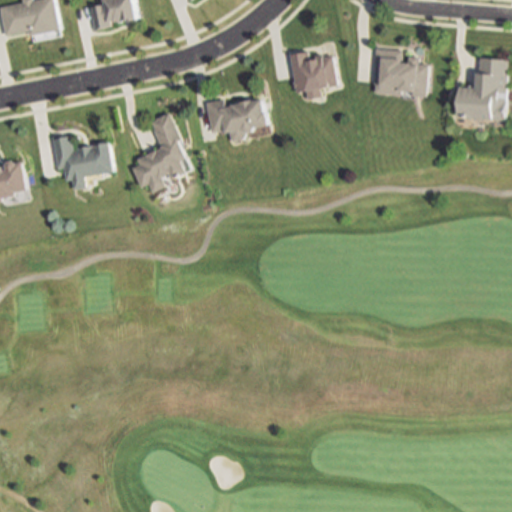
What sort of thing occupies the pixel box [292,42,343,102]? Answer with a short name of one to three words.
house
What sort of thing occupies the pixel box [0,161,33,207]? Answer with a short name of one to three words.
house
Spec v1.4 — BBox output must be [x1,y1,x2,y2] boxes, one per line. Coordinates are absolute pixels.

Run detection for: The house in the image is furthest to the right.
[451,59,512,128]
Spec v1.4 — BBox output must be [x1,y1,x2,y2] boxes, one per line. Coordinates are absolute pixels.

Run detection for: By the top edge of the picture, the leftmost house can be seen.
[0,0,60,44]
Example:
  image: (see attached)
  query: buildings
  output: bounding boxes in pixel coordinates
[208,98,274,147]
[0,161,33,207]
[54,134,116,192]
[451,59,512,128]
[98,0,138,29]
[0,0,60,44]
[132,114,194,205]
[374,48,434,100]
[292,42,343,102]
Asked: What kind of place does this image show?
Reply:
golf course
